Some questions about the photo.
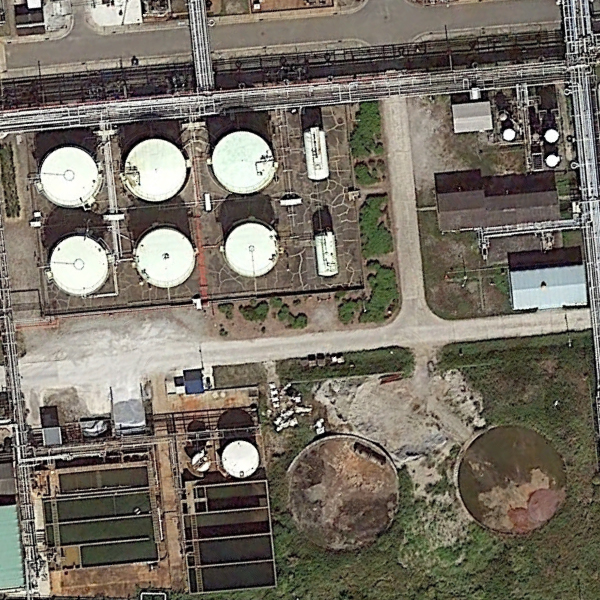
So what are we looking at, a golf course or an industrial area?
industrial area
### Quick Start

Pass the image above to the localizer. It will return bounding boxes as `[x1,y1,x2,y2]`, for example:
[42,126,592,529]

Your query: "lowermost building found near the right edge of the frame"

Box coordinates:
[510,264,587,309]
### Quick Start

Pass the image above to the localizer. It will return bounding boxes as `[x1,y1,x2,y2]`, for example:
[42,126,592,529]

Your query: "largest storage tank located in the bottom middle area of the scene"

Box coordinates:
[221,440,260,481]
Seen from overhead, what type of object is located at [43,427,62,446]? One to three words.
shed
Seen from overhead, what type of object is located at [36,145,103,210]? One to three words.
storage tank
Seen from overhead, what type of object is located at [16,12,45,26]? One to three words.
building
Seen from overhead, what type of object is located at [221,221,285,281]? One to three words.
storage tank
